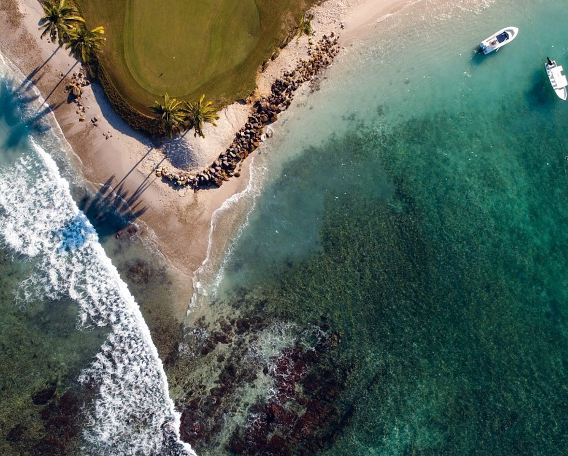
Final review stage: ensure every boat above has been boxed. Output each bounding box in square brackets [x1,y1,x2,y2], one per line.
[479,26,521,55]
[544,57,568,100]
